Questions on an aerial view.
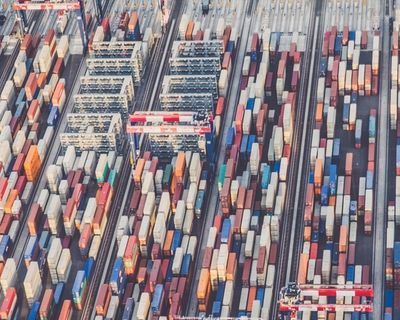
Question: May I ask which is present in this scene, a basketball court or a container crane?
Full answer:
Looking from above, you can make out a container crane.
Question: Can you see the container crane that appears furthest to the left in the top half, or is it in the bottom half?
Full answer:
It is in the top half that the container crane that appears furthest to the left appears.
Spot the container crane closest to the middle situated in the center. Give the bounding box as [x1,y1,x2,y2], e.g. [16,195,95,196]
[127,109,215,179]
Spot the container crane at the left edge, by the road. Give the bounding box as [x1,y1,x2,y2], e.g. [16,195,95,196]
[14,0,89,52]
